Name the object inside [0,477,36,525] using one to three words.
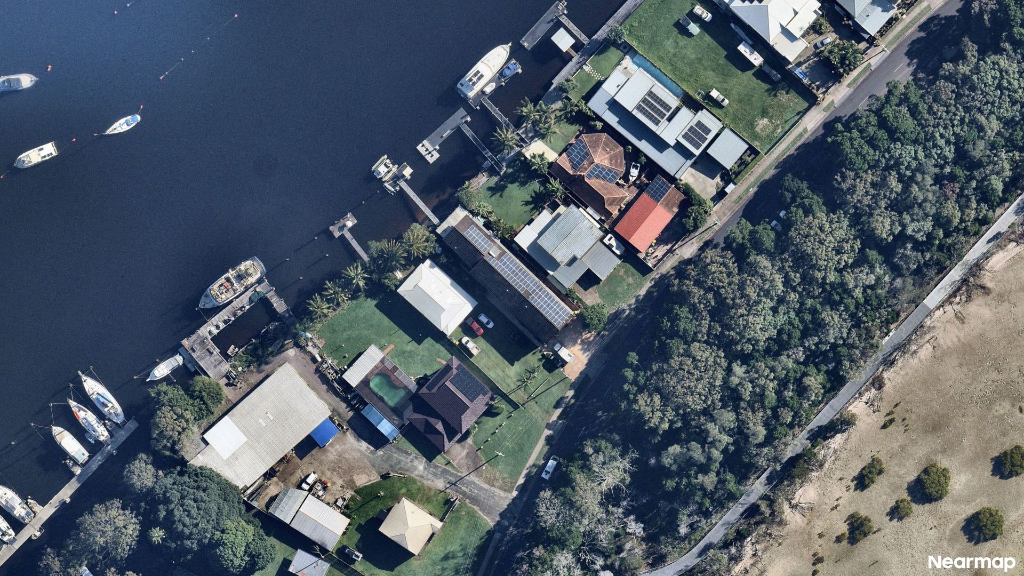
boat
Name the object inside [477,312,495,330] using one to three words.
car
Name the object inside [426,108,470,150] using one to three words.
pier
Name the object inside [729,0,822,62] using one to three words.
house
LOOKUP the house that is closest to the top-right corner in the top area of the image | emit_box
[836,0,897,38]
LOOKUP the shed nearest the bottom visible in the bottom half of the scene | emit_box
[289,548,331,576]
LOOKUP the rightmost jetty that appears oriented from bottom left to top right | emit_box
[520,1,567,50]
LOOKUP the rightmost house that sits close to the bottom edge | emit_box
[378,497,443,556]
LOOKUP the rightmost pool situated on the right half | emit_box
[630,54,684,98]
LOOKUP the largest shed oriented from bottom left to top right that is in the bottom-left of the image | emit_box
[189,362,331,489]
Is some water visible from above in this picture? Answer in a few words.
Yes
